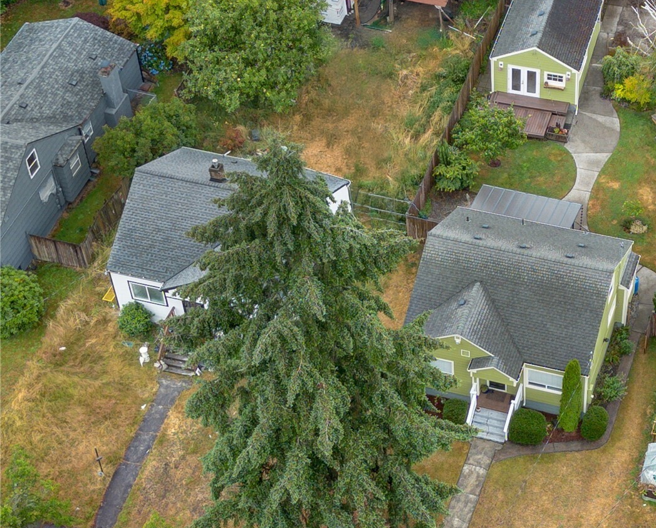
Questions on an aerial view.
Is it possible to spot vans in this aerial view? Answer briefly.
No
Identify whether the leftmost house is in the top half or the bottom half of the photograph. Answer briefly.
top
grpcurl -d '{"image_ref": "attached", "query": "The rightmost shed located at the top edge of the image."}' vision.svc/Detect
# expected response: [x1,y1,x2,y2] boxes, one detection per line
[489,0,609,115]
